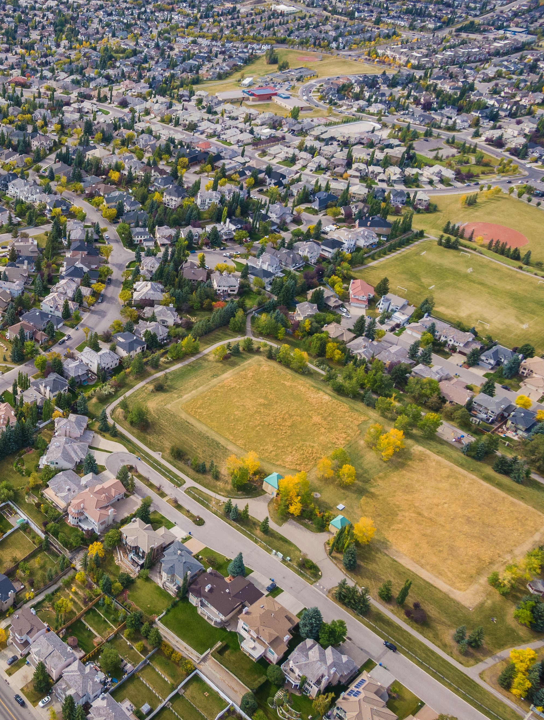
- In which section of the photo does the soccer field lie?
right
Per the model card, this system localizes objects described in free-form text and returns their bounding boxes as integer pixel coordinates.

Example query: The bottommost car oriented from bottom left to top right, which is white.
[37,694,53,708]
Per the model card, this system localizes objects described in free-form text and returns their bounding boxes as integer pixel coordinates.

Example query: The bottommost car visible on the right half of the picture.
[381,637,399,652]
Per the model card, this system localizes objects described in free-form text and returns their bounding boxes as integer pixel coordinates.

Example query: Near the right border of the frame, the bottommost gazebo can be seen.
[524,577,544,599]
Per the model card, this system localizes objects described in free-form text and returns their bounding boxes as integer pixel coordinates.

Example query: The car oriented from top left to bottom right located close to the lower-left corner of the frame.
[12,691,26,707]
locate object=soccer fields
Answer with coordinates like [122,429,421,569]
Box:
[352,239,544,354]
